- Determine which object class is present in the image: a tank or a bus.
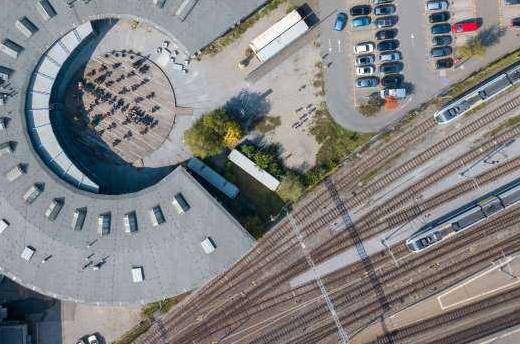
bus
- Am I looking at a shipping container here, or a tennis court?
shipping container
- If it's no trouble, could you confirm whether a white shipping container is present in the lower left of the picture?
No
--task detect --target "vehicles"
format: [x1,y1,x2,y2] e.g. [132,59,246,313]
[352,16,372,26]
[375,16,398,28]
[351,5,371,15]
[429,11,450,22]
[356,54,376,64]
[354,43,375,53]
[431,23,451,33]
[334,12,347,31]
[188,156,239,198]
[229,149,278,190]
[84,329,99,344]
[376,29,398,39]
[374,4,396,14]
[509,19,520,27]
[379,51,402,62]
[452,21,479,33]
[432,35,452,45]
[356,65,374,75]
[380,63,403,73]
[377,40,400,50]
[436,59,453,68]
[427,0,449,10]
[381,76,404,86]
[355,76,379,86]
[381,88,406,98]
[431,46,452,57]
